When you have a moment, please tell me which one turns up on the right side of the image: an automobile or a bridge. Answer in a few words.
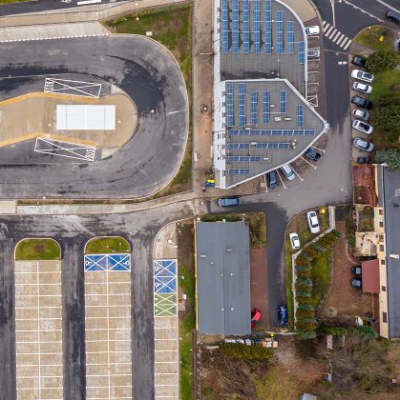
automobile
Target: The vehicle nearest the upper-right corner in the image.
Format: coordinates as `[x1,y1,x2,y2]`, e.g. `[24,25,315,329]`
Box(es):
[383,9,400,25]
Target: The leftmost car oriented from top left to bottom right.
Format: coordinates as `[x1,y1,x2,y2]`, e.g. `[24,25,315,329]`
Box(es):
[279,161,298,182]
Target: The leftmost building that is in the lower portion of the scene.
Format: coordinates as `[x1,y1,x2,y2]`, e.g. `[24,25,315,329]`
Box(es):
[190,222,251,336]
